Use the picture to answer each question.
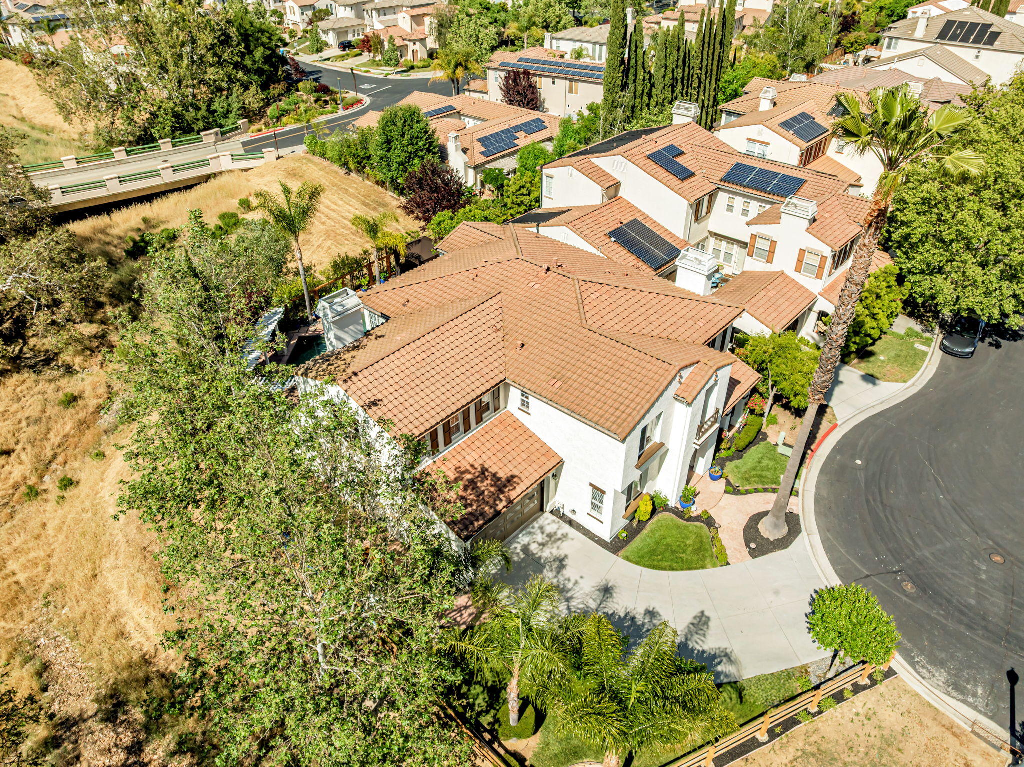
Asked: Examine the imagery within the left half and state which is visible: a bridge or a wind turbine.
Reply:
bridge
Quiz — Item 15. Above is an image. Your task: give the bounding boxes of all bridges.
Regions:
[15,126,274,214]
